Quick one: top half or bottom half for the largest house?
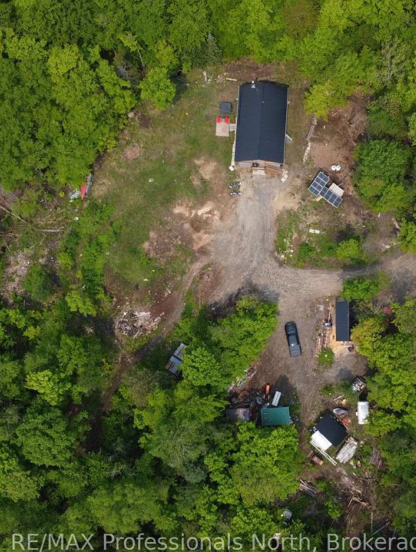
top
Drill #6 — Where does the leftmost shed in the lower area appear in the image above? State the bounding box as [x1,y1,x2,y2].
[227,406,251,423]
